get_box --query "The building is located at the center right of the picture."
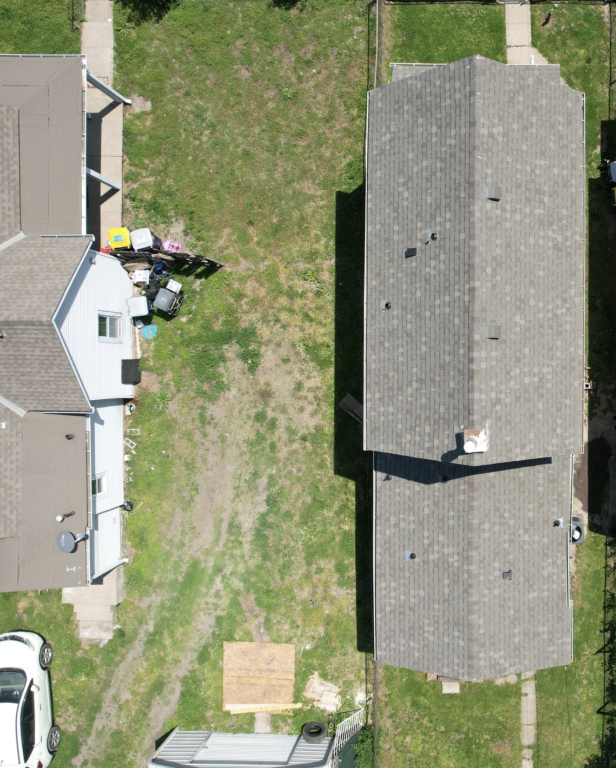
[360,44,589,680]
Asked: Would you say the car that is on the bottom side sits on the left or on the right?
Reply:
left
